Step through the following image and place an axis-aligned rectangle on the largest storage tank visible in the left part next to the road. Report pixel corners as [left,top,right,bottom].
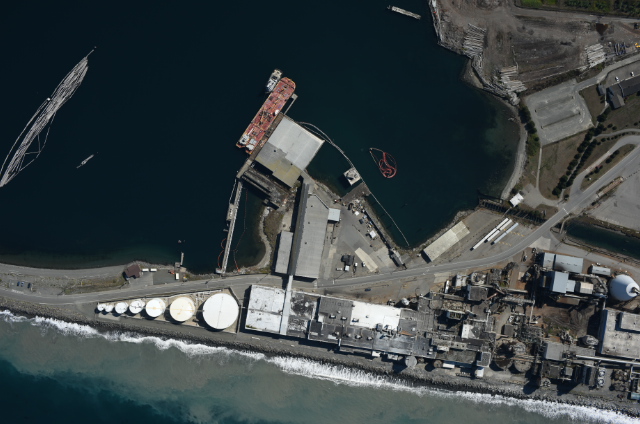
[202,291,240,330]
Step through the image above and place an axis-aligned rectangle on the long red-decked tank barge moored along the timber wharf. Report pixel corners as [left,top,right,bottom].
[236,76,294,154]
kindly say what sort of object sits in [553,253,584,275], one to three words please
building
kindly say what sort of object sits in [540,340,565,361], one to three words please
building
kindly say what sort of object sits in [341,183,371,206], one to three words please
pier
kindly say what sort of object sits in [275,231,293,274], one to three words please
shed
